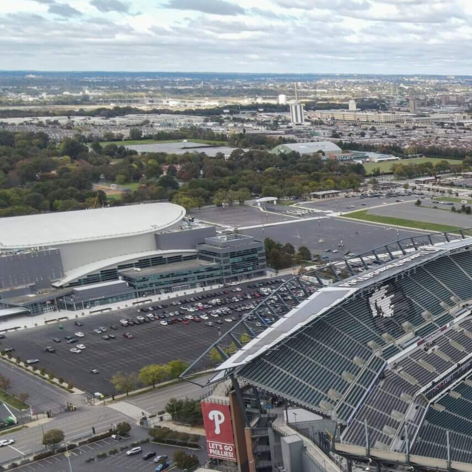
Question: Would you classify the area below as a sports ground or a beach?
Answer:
sports ground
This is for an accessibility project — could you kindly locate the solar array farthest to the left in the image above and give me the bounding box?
[227,292,343,363]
